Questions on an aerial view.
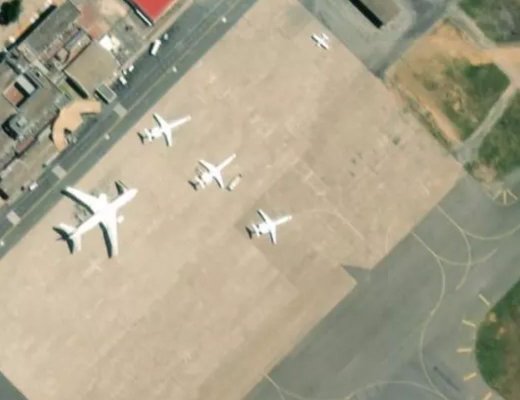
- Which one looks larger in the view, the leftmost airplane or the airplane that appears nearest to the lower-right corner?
the leftmost airplane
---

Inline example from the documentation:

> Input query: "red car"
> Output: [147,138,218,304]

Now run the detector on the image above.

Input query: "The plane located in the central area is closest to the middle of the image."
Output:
[251,209,291,243]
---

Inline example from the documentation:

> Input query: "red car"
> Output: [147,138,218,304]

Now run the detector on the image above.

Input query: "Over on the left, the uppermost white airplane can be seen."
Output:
[145,113,190,146]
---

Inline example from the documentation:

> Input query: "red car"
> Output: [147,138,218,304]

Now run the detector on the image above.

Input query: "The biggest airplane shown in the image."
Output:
[53,188,137,254]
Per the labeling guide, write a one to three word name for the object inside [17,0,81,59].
building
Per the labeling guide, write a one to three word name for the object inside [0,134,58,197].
building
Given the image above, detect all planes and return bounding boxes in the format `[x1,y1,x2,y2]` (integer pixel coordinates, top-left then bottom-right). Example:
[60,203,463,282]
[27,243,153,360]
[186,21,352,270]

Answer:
[195,155,236,189]
[53,188,137,254]
[145,113,190,146]
[312,32,329,48]
[251,209,291,243]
